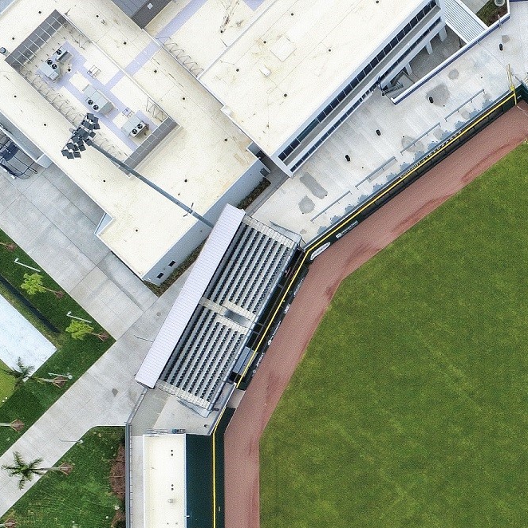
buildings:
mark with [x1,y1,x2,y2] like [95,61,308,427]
[199,0,453,186]
[145,433,211,528]
[0,0,273,283]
